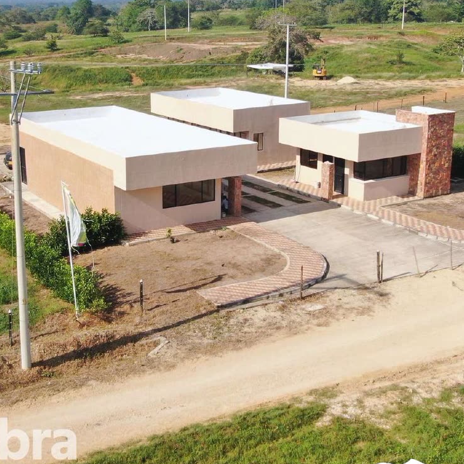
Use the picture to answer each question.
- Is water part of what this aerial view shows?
No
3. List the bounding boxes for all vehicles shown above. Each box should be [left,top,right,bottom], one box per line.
[312,55,328,81]
[1,144,12,164]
